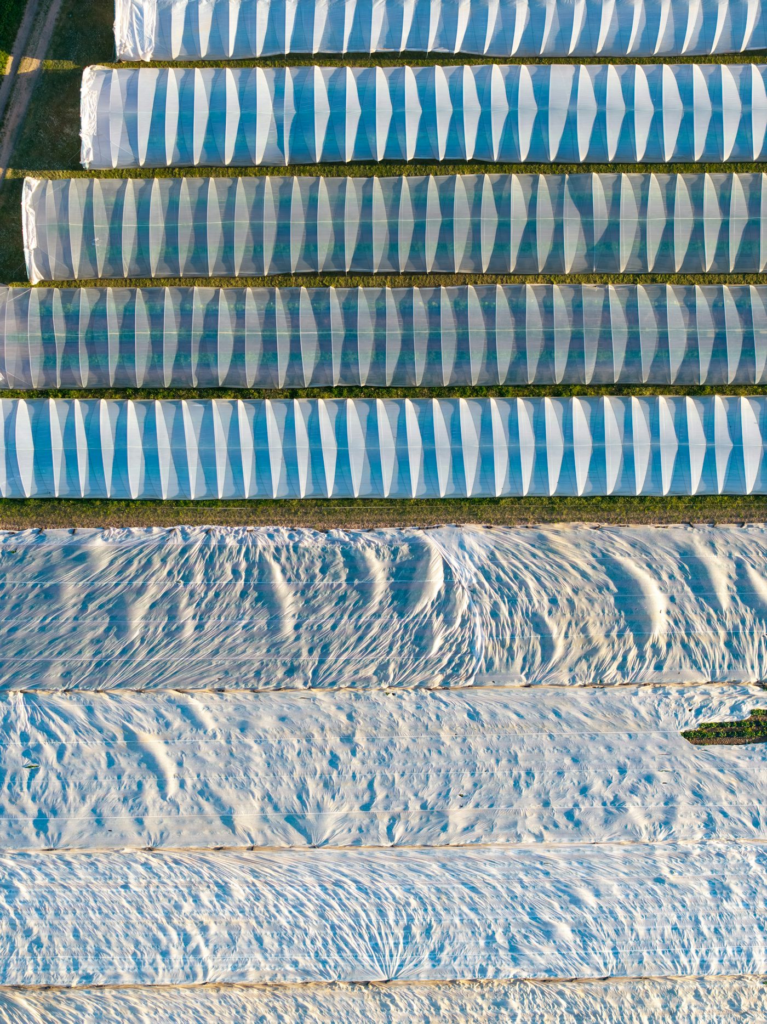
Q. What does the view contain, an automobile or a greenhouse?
greenhouse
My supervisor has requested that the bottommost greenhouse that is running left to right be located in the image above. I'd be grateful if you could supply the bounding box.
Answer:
[0,395,767,501]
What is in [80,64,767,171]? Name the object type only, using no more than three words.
greenhouse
